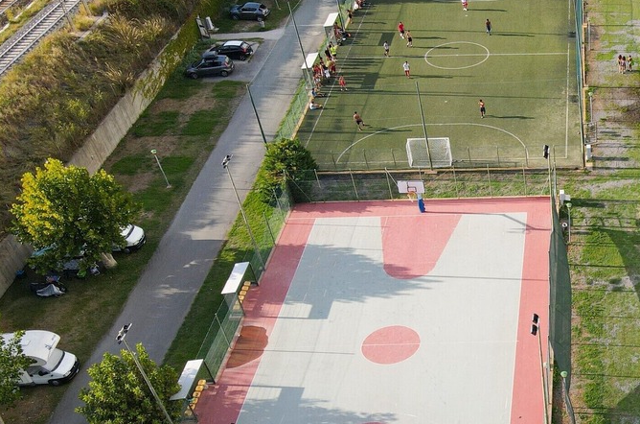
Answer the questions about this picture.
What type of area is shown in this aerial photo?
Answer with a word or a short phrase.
sports ground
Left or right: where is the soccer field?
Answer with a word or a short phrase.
right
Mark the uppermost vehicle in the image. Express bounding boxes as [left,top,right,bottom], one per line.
[229,4,272,23]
